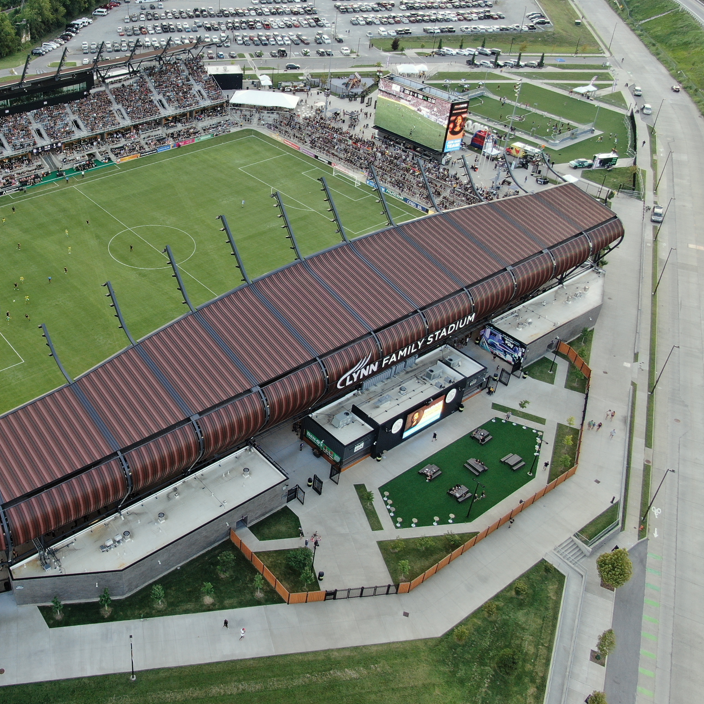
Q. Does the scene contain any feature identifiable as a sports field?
Yes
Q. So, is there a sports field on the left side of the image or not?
Yes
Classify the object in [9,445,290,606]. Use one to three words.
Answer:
building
